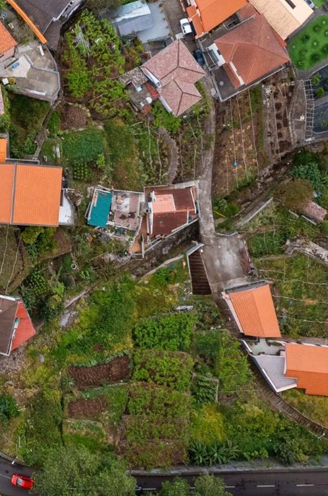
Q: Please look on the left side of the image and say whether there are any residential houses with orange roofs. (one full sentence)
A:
Yes, on the left side of the image there is a residential house with an orange roof.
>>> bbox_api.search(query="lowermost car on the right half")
[194,45,207,67]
